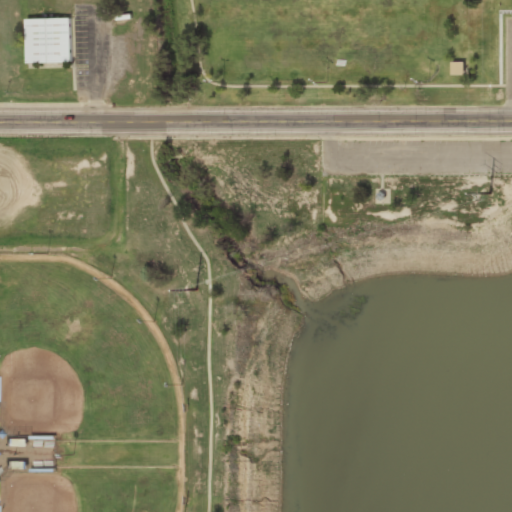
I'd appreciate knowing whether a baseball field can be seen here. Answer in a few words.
Yes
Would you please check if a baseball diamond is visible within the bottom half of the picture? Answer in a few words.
Yes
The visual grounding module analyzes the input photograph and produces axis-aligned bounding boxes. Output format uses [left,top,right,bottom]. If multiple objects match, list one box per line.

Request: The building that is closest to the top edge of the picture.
[24,18,73,64]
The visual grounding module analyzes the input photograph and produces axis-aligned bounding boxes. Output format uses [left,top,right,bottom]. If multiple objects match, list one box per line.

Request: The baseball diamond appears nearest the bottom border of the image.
[0,454,186,512]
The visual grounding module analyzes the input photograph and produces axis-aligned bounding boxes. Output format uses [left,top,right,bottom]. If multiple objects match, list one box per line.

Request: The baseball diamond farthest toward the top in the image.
[0,252,186,454]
